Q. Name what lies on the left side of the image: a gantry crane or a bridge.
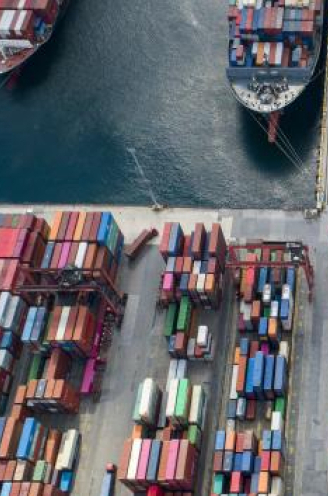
gantry crane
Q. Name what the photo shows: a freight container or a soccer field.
freight container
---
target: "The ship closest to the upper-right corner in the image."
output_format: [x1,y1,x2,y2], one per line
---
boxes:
[227,0,324,192]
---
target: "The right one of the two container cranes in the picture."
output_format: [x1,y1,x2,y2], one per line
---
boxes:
[223,241,317,299]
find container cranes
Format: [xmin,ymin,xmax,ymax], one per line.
[5,263,129,321]
[223,241,317,299]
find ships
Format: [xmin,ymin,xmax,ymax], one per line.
[0,0,80,100]
[227,0,324,192]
